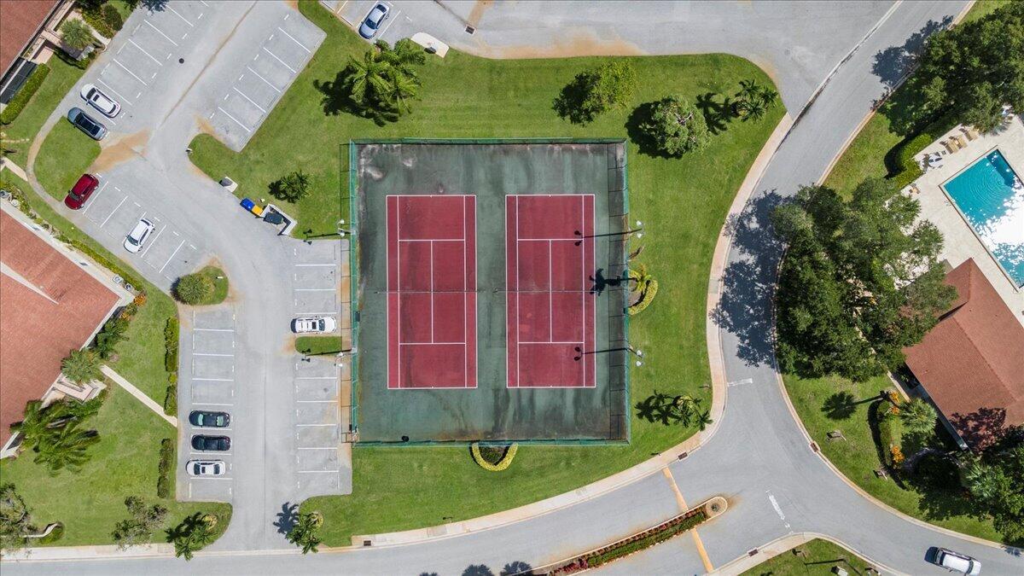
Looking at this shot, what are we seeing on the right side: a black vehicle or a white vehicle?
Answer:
white vehicle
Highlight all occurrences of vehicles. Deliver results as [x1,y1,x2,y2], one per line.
[81,83,122,119]
[934,546,978,574]
[294,316,336,334]
[190,410,231,428]
[192,433,232,452]
[66,173,101,211]
[358,0,391,41]
[69,108,108,142]
[187,458,227,477]
[125,218,156,255]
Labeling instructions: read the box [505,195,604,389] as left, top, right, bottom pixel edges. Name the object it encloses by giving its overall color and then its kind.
red tennis court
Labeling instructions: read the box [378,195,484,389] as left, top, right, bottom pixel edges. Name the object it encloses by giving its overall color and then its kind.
red tennis court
